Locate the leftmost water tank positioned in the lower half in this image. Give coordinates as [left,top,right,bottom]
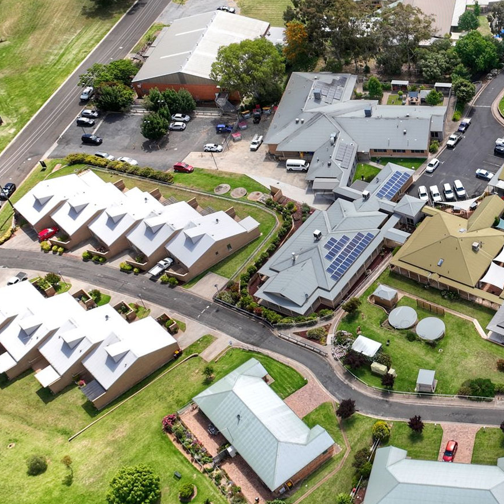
[388,307,417,333]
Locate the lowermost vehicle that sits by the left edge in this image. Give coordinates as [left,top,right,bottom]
[2,267,33,288]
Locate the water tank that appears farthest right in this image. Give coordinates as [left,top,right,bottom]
[416,317,445,343]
